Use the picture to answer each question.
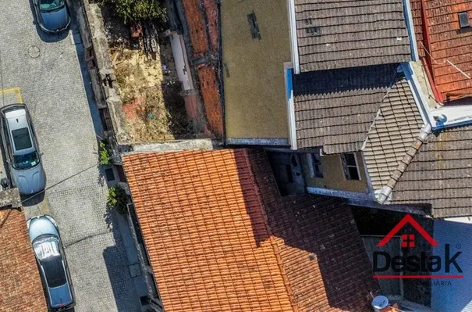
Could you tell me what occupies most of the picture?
buildings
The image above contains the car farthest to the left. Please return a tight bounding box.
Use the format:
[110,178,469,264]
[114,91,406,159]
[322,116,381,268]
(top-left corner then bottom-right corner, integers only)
[0,102,47,198]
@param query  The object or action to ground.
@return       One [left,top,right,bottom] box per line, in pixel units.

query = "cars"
[31,0,69,33]
[26,213,80,312]
[0,102,47,198]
